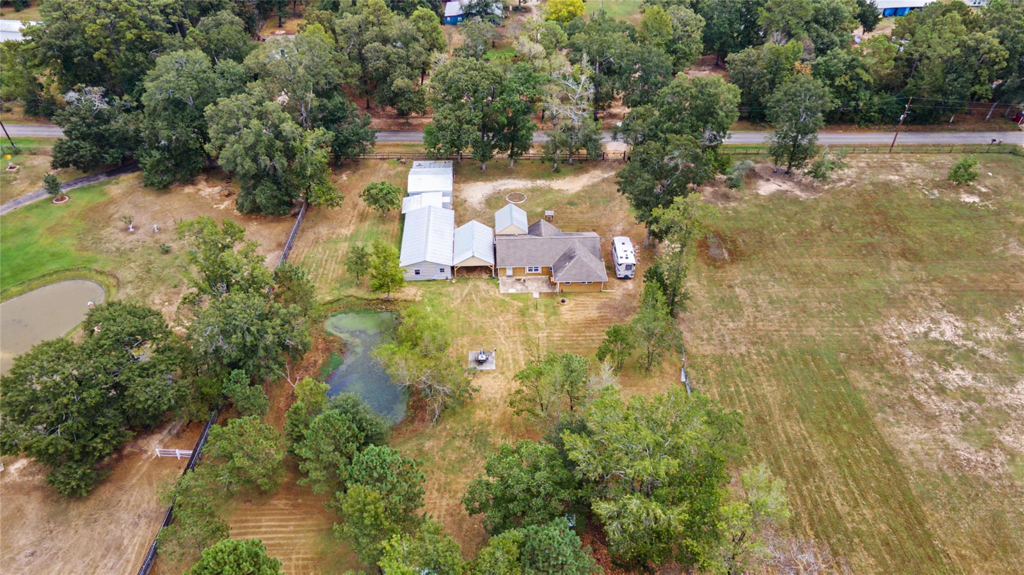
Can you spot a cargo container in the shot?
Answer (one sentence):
No, this view has no cargo container in it.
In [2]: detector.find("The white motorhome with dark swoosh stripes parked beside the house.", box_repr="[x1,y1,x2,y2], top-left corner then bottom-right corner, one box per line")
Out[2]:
[612,239,635,281]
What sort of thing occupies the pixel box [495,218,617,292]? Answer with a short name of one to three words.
house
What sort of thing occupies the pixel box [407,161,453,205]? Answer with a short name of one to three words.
shed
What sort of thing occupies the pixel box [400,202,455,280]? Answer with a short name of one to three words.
barn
